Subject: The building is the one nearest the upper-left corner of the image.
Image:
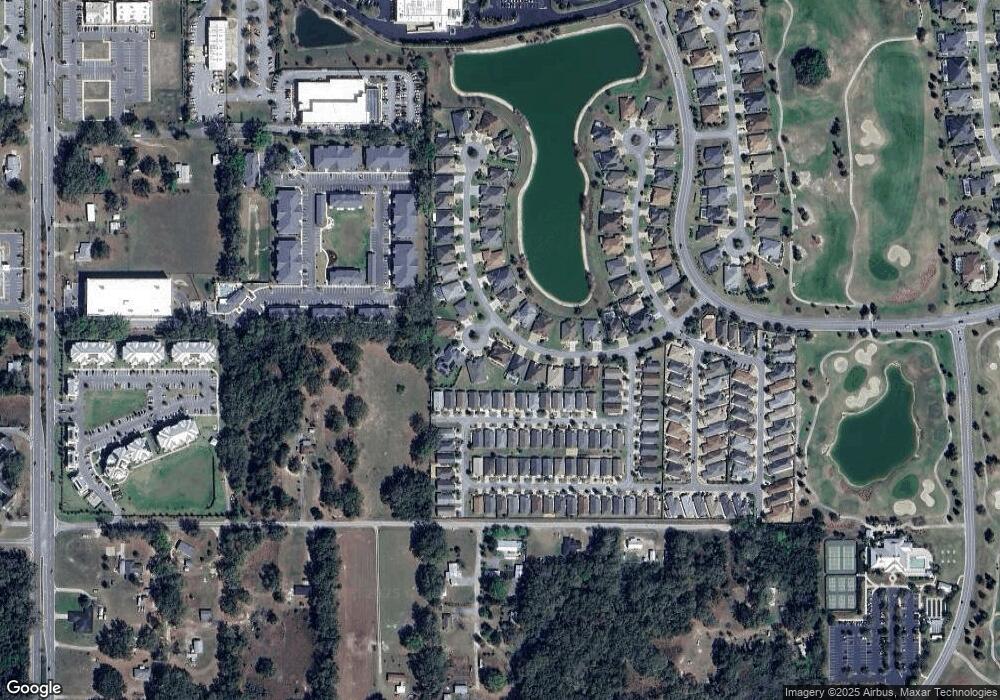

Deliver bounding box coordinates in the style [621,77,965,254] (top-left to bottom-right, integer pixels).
[84,1,110,24]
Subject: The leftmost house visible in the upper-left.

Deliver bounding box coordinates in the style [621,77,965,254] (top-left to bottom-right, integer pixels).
[4,153,21,179]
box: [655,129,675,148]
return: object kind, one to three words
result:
house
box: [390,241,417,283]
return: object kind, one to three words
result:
building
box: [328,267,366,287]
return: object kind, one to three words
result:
building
